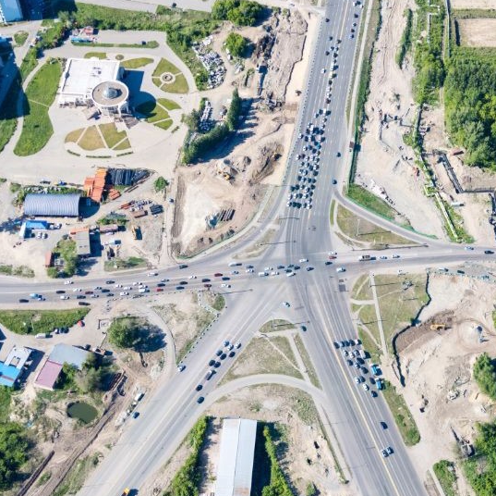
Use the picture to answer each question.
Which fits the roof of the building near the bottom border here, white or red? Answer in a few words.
white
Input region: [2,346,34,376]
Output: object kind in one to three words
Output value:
building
